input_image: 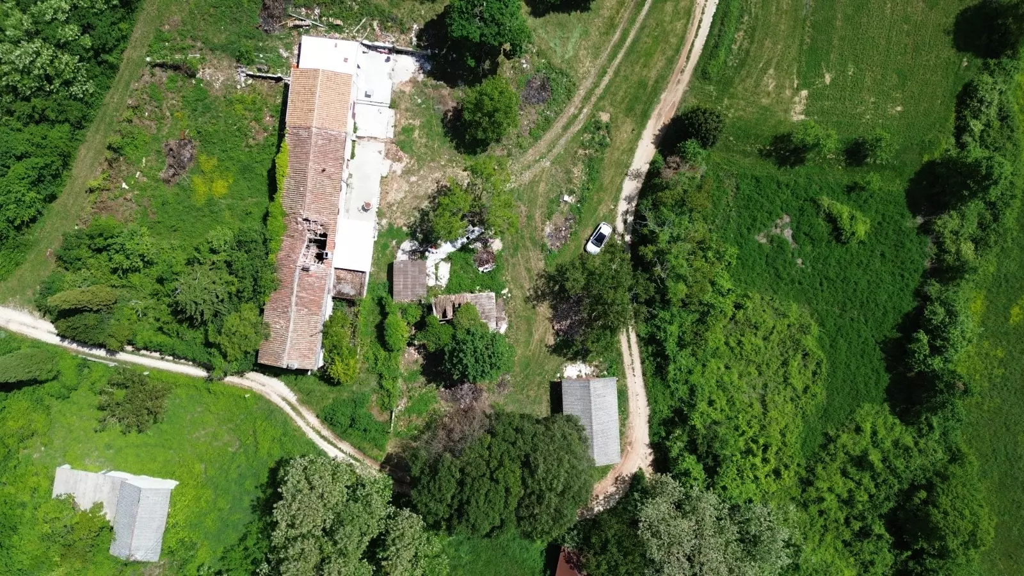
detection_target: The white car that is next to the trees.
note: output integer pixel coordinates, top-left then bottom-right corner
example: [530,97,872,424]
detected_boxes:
[587,222,611,254]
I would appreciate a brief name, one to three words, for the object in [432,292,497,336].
shed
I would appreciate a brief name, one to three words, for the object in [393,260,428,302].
shed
